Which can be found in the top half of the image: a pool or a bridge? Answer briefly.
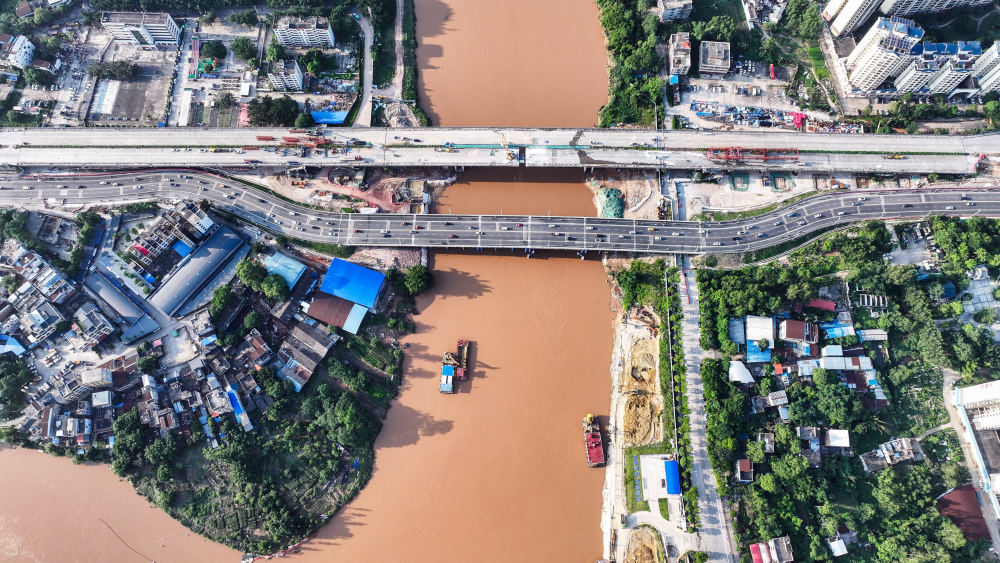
bridge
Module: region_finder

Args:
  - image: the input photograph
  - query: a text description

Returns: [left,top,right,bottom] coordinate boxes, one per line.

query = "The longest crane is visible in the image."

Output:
[706,146,799,163]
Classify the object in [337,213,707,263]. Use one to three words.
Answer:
bridge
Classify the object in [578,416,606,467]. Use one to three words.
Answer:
ship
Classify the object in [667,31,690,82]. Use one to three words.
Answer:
house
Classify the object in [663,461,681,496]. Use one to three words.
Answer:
shed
